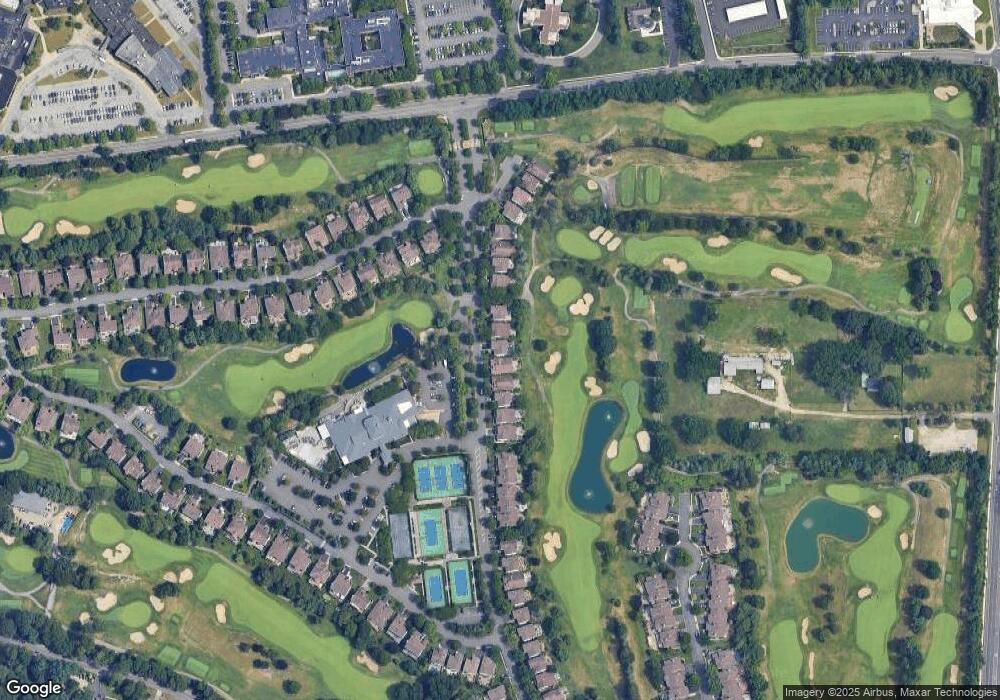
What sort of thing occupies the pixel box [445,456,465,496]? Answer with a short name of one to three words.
tennis court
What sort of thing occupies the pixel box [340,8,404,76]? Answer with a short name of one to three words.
building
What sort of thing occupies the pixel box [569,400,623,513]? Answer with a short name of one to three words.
pond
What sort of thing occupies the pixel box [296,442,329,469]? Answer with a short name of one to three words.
swimming pool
